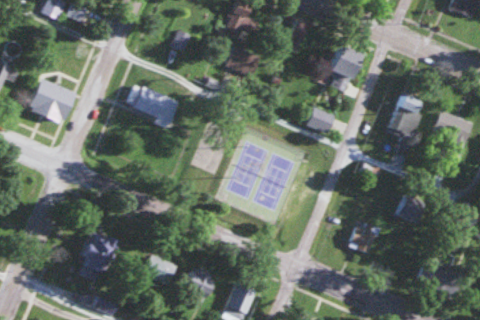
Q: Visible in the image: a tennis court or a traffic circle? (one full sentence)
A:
Looking from above, you can make out a tennis court.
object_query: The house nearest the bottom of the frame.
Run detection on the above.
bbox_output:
[218,284,256,320]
